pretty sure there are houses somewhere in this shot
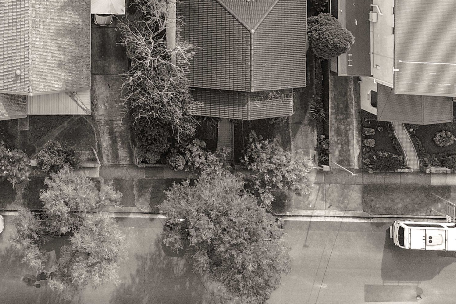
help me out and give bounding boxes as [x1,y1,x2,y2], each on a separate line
[169,0,309,121]
[0,0,93,120]
[355,0,456,125]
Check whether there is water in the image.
No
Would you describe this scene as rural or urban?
urban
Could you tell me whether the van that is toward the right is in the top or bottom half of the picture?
bottom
